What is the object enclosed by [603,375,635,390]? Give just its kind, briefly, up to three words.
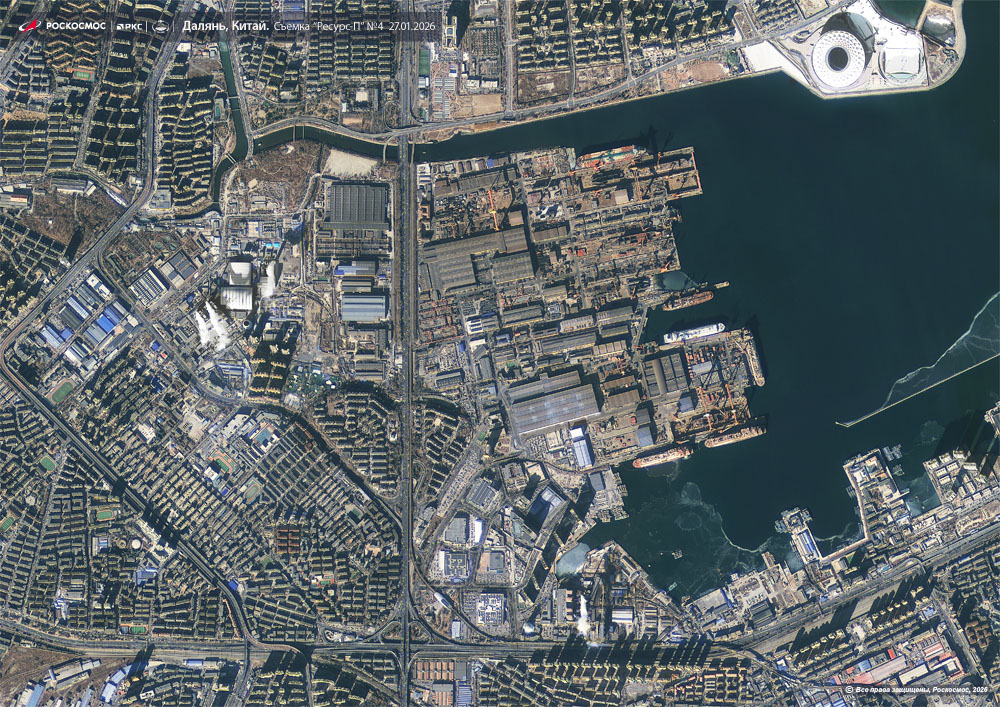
building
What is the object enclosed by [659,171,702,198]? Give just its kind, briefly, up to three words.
pier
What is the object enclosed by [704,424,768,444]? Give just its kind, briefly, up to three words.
ship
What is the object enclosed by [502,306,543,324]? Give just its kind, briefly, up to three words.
building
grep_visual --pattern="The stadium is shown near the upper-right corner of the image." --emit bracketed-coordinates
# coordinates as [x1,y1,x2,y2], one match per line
[812,33,866,89]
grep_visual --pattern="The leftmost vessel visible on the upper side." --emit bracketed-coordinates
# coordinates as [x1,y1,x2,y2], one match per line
[576,145,638,165]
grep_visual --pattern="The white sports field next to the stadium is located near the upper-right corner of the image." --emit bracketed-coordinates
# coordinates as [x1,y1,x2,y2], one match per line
[880,48,925,84]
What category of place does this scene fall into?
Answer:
port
